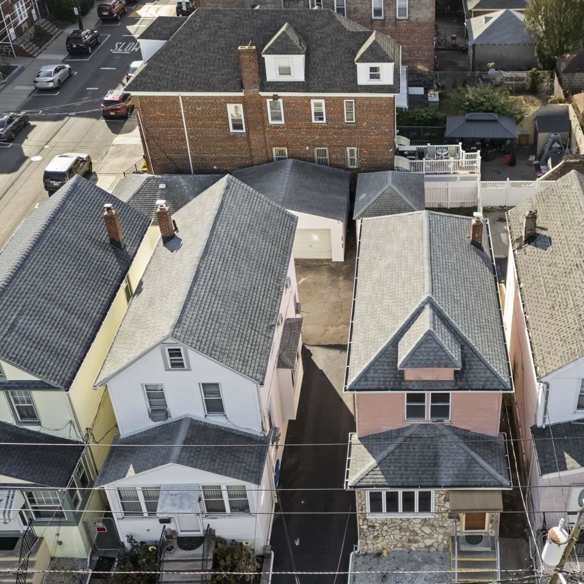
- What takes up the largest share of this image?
buildings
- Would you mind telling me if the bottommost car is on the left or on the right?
left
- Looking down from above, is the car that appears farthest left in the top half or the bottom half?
top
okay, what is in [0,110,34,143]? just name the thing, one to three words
car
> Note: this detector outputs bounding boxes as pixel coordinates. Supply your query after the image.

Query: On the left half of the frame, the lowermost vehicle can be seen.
[41,154,92,194]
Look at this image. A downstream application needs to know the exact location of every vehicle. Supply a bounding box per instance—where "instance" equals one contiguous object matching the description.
[67,28,103,55]
[36,63,75,90]
[100,87,138,120]
[98,0,129,22]
[41,154,92,194]
[174,0,196,18]
[127,58,143,85]
[0,110,34,143]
